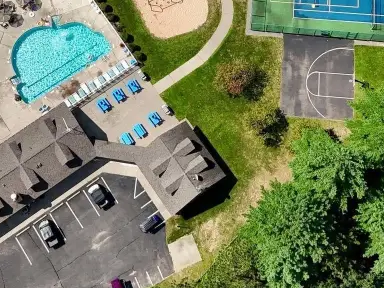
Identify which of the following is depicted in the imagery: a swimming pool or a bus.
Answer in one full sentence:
There is a swimming pool in the scene.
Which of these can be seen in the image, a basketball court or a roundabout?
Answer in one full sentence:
The one in the frame is a basketball court.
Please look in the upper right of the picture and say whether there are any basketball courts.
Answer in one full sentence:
Yes, there is a basketball court in the upper right of the picture.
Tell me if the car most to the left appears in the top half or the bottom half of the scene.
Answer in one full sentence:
The car most to the left sits in the bottom half of the picture.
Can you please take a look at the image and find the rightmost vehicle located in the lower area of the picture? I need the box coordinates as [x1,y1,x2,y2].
[136,210,168,237]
